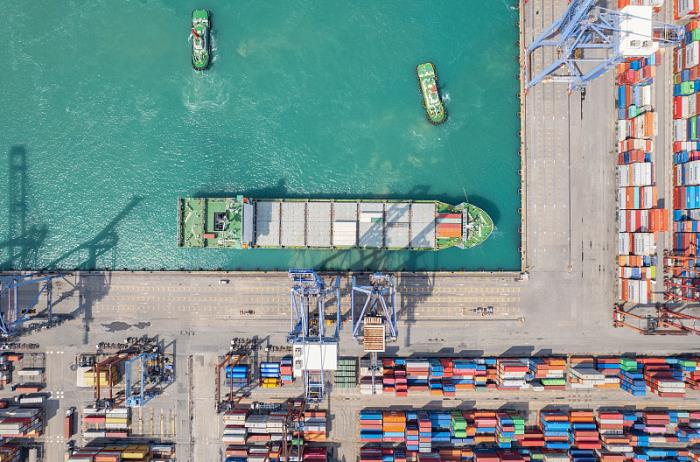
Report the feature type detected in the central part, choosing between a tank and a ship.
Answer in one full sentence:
There is a ship in the central part.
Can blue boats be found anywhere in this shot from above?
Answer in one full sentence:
No, no blue boat is visible in the scene.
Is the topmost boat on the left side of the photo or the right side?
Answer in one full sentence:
It is on the left.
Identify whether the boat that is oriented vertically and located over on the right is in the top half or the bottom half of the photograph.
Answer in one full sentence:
The boat that is oriented vertically and located over on the right sits in the top half of the picture.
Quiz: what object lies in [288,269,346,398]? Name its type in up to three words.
container crane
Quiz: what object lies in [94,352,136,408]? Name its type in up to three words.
crane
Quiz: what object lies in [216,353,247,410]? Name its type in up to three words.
crane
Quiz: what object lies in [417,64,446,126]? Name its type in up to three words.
boat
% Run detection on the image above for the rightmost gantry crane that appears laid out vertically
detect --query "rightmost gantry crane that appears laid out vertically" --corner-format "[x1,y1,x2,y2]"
[347,275,396,393]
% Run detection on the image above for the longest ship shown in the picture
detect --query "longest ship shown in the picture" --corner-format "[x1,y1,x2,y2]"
[177,184,494,249]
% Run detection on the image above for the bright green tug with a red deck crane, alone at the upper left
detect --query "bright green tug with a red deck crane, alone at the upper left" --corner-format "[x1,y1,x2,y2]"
[191,10,211,72]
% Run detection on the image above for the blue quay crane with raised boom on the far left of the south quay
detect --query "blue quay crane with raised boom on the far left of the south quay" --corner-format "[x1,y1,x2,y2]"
[0,275,68,367]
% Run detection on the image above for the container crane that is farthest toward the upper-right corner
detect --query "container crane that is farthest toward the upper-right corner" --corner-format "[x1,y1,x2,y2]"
[525,0,673,97]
